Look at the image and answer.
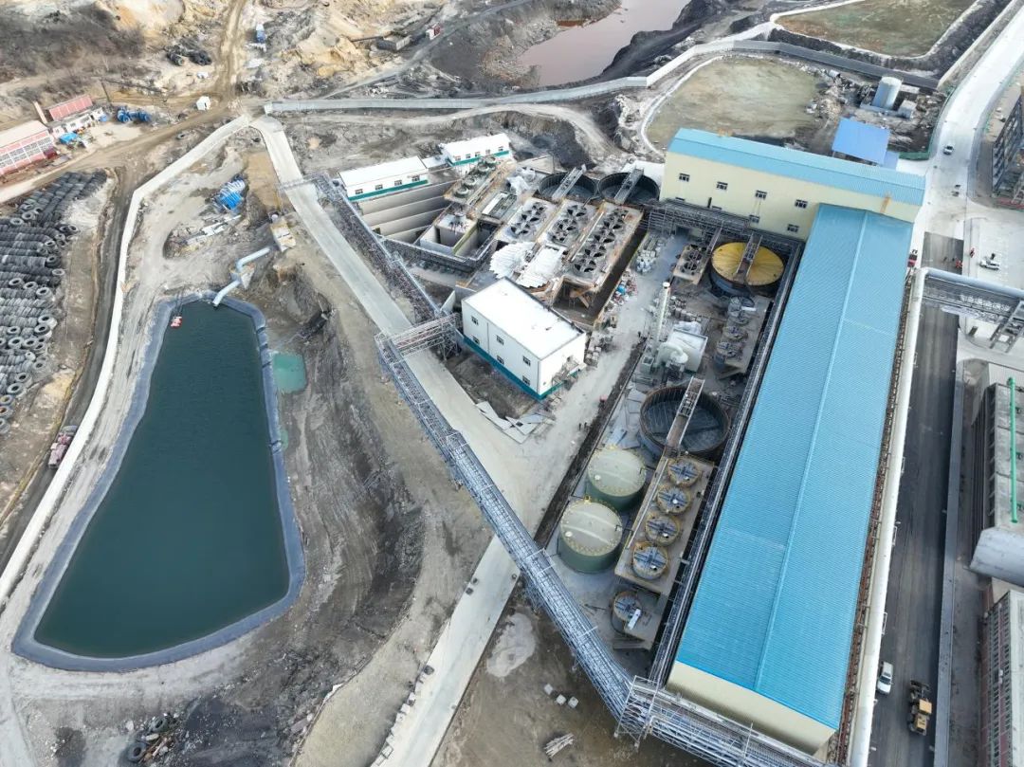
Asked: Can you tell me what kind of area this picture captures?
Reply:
industrial area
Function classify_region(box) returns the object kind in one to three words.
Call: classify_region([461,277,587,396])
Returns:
building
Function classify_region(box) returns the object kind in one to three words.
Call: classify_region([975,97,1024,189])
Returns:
building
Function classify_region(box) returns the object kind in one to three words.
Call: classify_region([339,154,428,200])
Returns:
shed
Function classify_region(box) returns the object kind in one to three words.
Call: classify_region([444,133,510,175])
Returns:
shed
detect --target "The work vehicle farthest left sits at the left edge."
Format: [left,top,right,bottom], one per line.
[44,433,69,462]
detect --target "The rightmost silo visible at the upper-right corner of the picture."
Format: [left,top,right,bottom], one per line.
[874,77,905,109]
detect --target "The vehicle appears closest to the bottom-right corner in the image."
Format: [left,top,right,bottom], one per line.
[904,675,933,735]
